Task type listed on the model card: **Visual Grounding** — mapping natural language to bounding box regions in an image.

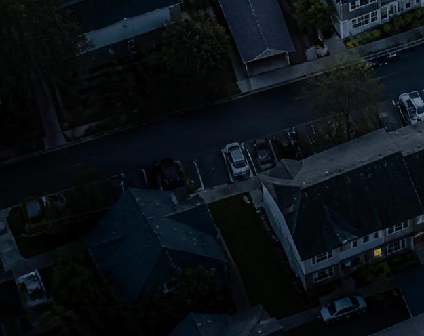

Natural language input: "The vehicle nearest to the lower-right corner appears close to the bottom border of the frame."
[319,295,368,324]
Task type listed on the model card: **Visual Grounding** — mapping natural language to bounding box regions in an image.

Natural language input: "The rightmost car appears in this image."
[401,91,424,124]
